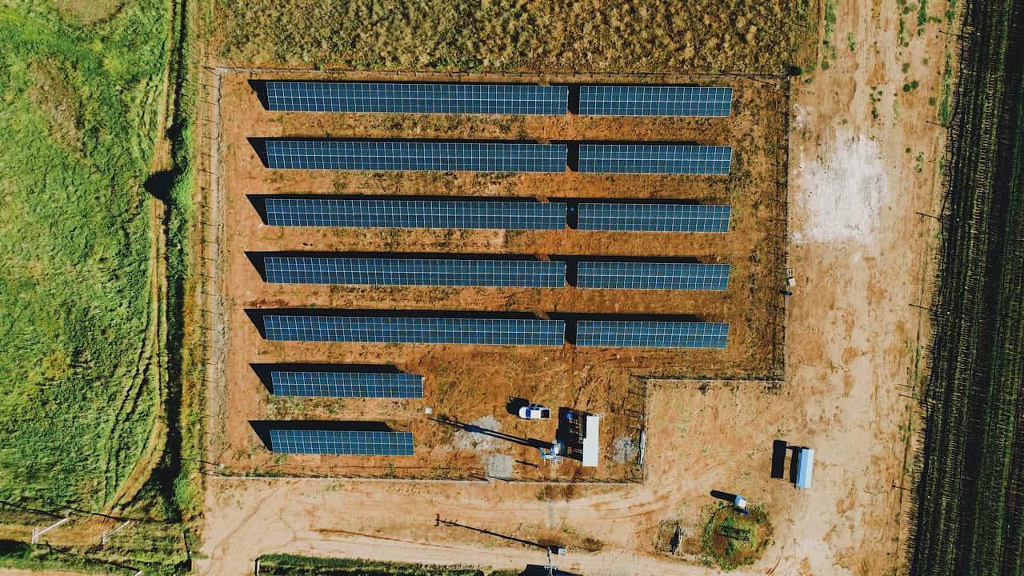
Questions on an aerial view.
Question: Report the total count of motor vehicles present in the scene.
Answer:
1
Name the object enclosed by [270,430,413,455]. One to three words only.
solar array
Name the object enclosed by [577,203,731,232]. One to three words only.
solar array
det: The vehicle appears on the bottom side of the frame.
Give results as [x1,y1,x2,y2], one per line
[518,400,551,425]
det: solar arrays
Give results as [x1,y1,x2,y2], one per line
[577,321,729,348]
[576,262,730,290]
[266,141,568,172]
[577,203,731,232]
[266,199,568,229]
[264,257,567,287]
[578,145,732,174]
[270,430,413,455]
[272,372,424,398]
[267,83,569,114]
[579,86,732,116]
[264,316,565,345]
